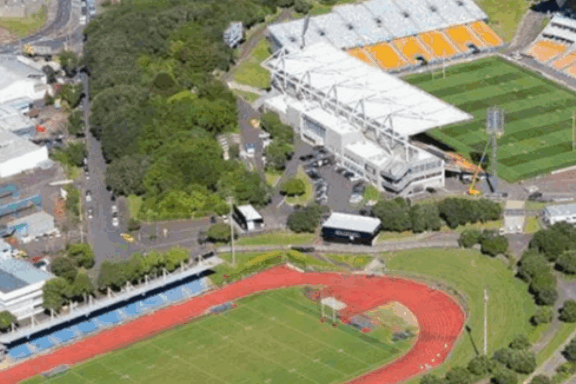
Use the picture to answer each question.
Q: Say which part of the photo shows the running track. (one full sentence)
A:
The running track is located in the bottom region of the scene.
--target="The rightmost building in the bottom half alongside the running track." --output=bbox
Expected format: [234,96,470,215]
[323,213,380,249]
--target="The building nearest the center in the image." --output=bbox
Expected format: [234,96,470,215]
[238,205,263,234]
